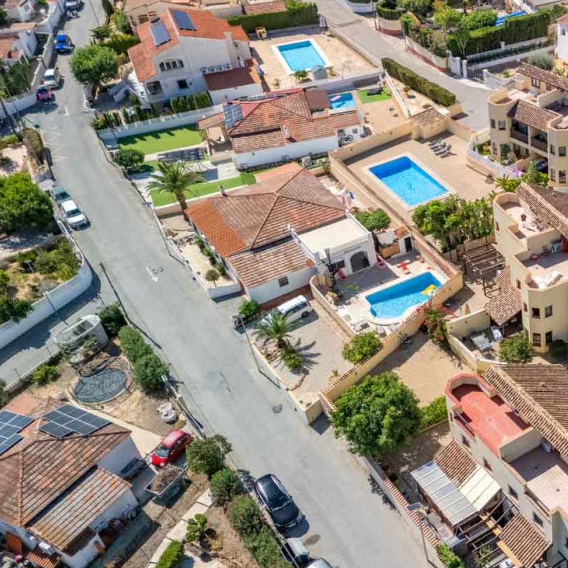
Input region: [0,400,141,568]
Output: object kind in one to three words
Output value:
house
